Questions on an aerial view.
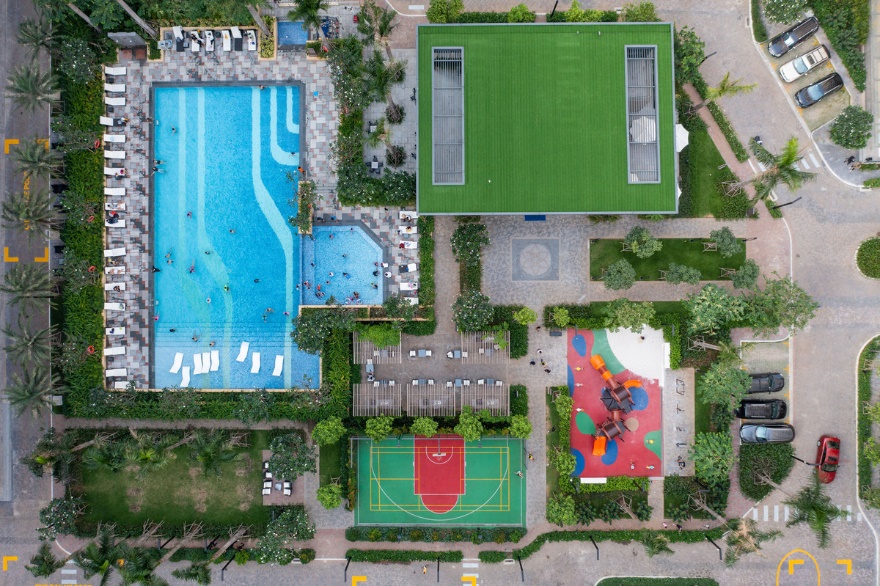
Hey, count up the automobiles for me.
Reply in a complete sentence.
Altogether the scene contains 7 automobiles.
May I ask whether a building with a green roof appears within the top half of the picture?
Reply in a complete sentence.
Yes, a building with a green roof shows up within the top half of the picture.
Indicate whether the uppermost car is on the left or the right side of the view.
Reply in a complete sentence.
You can find the uppermost car on the right side of the picture.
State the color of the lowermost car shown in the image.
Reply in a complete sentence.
The color of the lowermost car is red.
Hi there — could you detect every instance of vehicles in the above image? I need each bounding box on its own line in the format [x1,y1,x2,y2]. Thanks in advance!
[736,397,785,421]
[767,16,820,57]
[792,70,845,110]
[738,421,794,445]
[778,44,831,83]
[740,370,785,394]
[811,433,840,482]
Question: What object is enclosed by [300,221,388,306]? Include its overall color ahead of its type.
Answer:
blue swimming pool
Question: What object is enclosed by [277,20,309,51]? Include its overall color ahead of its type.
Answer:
blue swimming pool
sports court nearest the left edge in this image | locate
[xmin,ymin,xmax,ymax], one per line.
[357,439,527,528]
